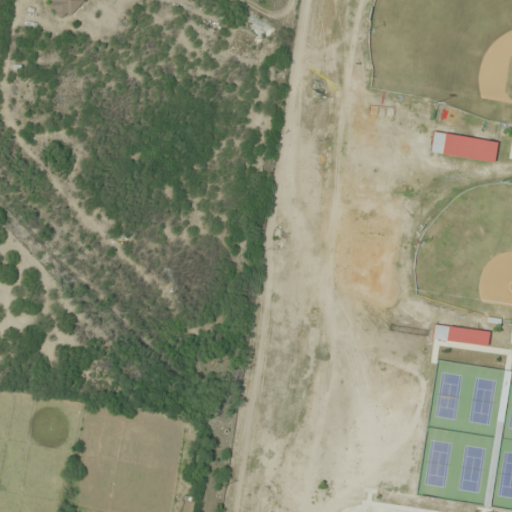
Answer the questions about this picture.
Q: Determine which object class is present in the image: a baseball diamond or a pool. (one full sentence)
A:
It is a baseball diamond that can be seen here.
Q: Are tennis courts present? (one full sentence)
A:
Yes, the image includes a tennis court.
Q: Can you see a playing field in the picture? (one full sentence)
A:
Yes, the frame does contain a playing field.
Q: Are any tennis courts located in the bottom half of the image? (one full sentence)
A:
Yes, a tennis court can be seen in the bottom half of the image.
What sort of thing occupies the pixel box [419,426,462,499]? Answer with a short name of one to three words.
tennis court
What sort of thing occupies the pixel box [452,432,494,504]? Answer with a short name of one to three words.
tennis court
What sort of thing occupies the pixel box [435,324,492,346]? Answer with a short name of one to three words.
building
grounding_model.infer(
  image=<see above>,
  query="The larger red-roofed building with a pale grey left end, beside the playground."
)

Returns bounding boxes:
[432,130,500,162]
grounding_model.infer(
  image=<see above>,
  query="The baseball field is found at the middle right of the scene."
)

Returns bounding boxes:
[416,184,512,317]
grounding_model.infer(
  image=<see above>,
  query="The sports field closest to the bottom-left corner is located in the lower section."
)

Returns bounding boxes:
[0,392,84,512]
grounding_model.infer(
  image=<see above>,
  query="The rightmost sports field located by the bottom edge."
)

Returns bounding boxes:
[74,407,180,512]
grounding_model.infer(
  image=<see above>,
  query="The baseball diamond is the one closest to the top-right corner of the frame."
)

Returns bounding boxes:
[370,0,512,124]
